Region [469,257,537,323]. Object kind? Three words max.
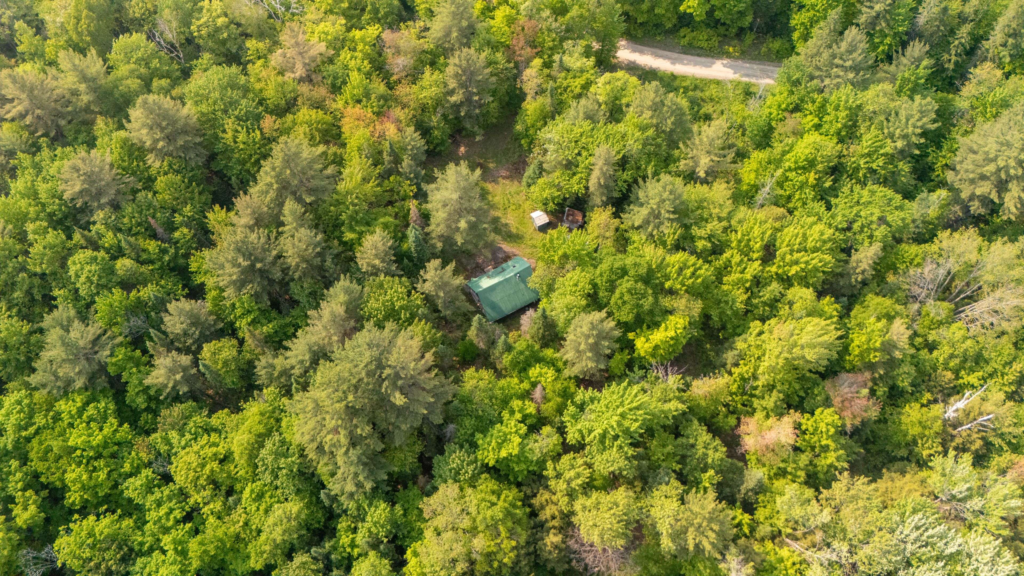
building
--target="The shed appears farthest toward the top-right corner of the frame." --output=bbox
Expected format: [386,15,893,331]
[562,208,584,230]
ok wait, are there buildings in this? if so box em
[469,257,537,323]
[562,208,584,230]
[530,210,549,230]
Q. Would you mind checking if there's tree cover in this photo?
Yes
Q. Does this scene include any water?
No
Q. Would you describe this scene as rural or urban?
rural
